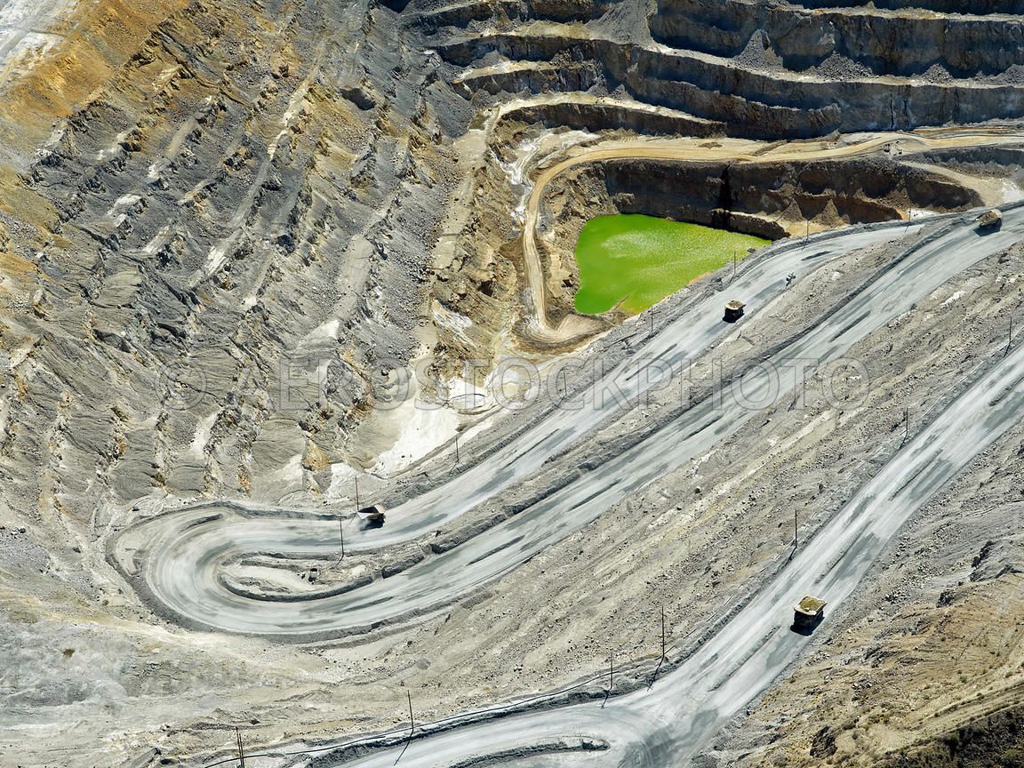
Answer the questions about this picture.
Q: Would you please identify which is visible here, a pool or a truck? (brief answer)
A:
truck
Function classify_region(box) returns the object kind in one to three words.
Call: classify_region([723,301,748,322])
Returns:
truck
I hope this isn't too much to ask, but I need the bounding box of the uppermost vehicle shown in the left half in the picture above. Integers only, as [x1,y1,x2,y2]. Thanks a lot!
[356,503,387,529]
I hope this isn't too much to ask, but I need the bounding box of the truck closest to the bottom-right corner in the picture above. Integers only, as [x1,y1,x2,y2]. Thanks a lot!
[790,600,827,636]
